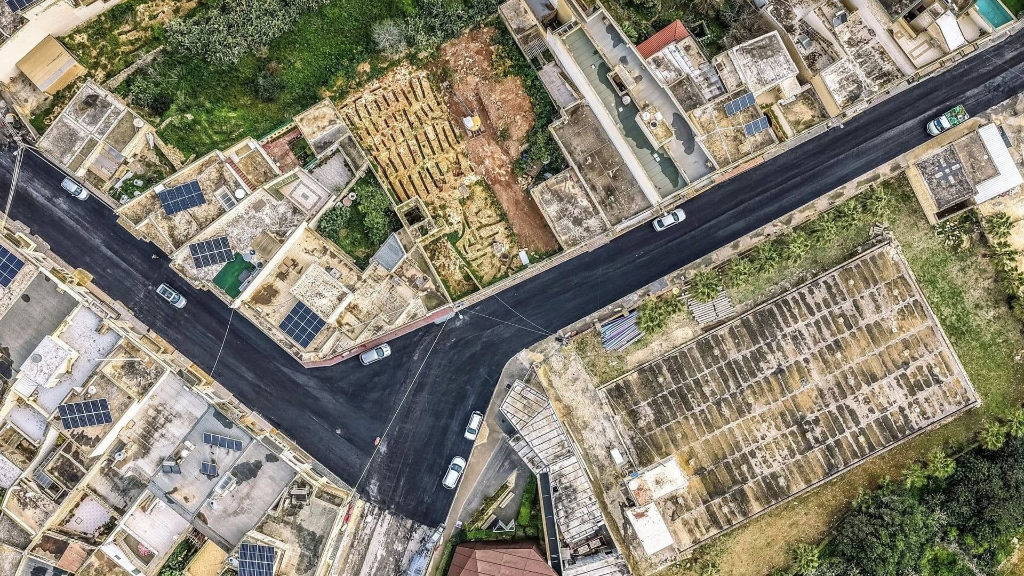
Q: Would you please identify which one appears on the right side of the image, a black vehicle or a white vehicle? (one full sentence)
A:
There is a white vehicle on the right side of the image.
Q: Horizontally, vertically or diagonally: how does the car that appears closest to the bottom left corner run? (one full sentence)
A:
The car that appears closest to the bottom left corner is laid out diagonally.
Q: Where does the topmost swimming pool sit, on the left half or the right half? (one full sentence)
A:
You can find the topmost swimming pool on the right side of the picture.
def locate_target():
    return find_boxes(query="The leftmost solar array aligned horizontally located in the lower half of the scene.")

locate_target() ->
[58,398,113,429]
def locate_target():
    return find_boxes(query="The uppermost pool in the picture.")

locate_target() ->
[968,0,1017,34]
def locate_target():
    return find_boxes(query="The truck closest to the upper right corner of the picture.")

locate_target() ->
[930,106,970,132]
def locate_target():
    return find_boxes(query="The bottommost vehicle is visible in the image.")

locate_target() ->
[443,457,464,490]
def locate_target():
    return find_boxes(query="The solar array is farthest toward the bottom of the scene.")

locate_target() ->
[239,543,275,576]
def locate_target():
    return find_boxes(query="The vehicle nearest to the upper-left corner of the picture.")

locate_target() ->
[57,175,89,201]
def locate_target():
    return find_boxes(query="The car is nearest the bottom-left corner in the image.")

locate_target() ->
[153,282,185,309]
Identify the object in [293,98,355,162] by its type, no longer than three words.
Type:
house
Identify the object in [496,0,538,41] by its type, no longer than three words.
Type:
house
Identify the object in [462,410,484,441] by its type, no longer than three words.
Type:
car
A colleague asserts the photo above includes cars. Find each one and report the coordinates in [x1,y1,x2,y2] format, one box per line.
[443,457,464,490]
[153,282,185,309]
[462,410,484,441]
[653,207,686,232]
[358,344,391,365]
[57,175,89,201]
